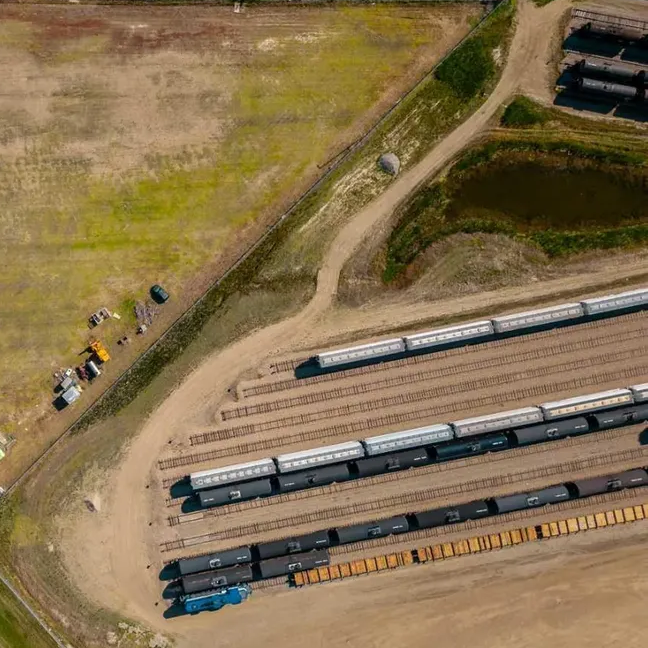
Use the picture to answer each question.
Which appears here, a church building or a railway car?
railway car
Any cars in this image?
Yes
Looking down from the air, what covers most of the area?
paved ground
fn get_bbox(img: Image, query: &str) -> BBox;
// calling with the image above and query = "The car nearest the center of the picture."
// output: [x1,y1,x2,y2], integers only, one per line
[150,283,170,305]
